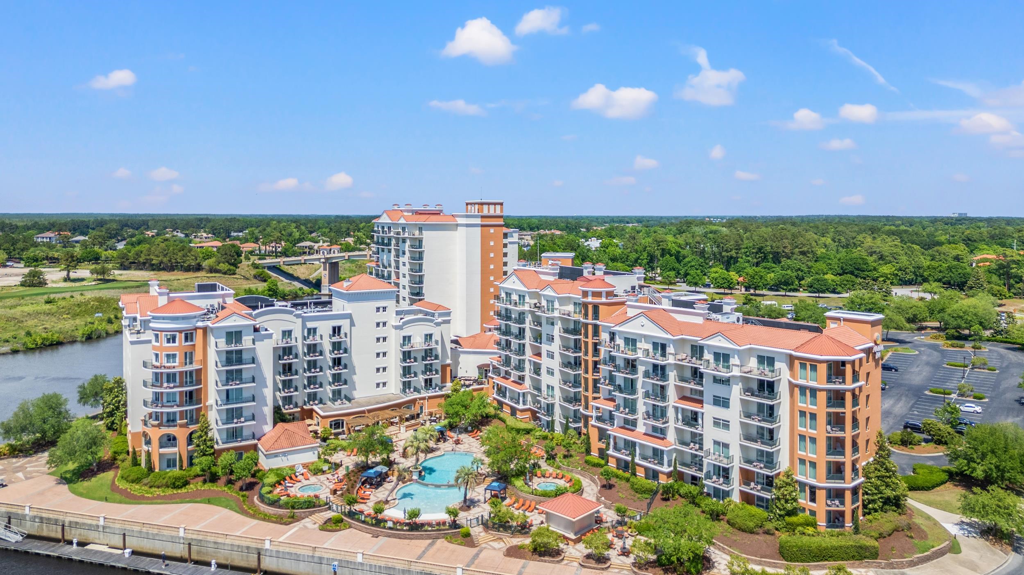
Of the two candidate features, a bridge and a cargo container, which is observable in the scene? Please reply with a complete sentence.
The image shows a bridge.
